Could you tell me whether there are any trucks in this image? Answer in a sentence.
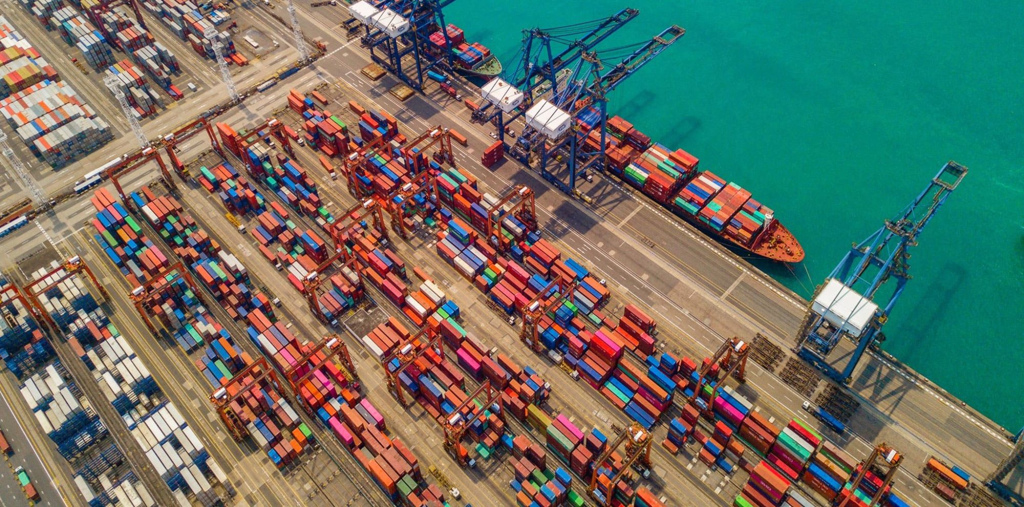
Yes, looking at the shot, I can spot a truck.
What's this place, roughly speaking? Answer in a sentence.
The area seen from above is a port.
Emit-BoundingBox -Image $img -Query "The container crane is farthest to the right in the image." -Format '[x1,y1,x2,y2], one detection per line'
[980,428,1024,504]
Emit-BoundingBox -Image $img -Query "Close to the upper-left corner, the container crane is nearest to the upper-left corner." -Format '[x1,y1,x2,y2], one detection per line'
[87,0,147,44]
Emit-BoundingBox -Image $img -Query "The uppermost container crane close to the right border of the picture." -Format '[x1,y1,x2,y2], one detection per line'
[789,156,974,386]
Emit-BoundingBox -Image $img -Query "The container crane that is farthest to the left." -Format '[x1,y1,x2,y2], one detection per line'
[0,282,42,328]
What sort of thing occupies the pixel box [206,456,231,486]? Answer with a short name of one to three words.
shipping container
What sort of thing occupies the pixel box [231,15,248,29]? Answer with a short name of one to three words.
work vehicle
